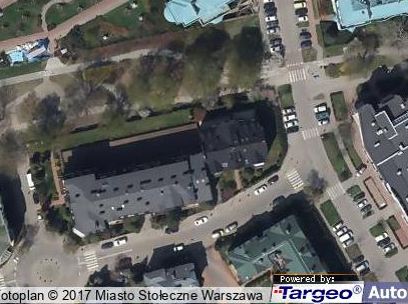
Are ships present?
No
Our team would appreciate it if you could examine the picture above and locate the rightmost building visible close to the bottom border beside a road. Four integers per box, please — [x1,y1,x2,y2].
[225,216,331,304]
